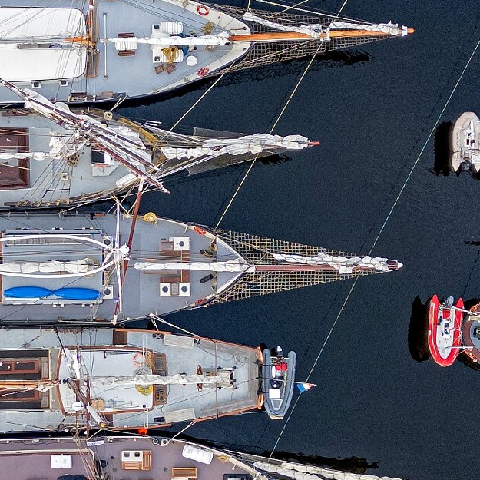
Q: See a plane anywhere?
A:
No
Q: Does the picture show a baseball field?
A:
No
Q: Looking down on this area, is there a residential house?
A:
No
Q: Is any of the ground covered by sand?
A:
No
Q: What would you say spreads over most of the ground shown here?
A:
water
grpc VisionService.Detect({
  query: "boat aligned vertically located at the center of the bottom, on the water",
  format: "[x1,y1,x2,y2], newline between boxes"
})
[262,351,296,418]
